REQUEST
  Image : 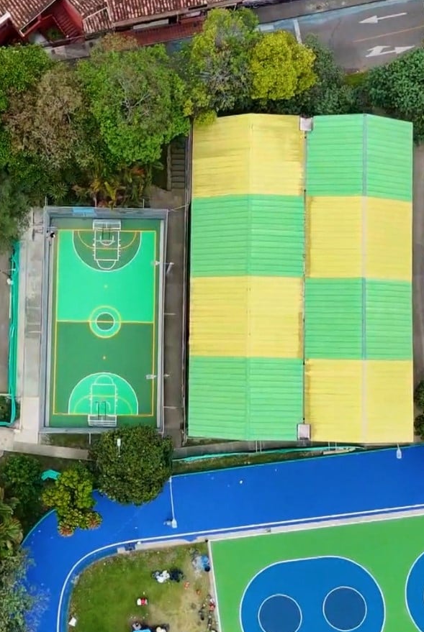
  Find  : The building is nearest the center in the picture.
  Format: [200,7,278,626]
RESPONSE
[184,113,413,443]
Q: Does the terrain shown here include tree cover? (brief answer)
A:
Yes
